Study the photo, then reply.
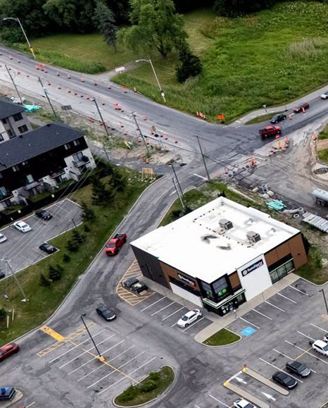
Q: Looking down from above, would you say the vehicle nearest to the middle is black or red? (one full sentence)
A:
From above, the vehicle nearest to the middle appears red.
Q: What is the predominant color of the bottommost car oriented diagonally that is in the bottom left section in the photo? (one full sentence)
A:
In this view, the bottommost car oriented diagonally that is in the bottom left section is red.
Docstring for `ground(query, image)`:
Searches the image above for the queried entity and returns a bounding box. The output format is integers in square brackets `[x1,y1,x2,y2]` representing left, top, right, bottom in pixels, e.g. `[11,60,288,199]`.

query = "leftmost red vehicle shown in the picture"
[0,340,23,361]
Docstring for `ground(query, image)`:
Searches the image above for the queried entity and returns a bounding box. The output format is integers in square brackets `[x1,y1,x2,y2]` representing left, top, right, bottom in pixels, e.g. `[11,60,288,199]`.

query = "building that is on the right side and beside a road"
[132,196,308,317]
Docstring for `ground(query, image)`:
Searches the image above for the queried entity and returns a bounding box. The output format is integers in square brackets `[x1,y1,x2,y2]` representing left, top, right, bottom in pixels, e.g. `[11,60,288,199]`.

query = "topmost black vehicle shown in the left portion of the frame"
[33,210,54,222]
